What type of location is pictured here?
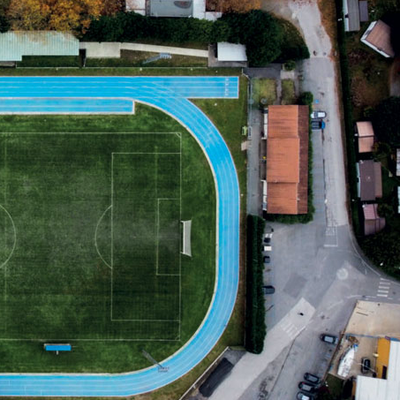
sports ground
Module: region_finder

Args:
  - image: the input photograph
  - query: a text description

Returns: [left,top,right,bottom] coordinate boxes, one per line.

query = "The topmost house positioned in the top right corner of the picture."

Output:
[343,0,368,31]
